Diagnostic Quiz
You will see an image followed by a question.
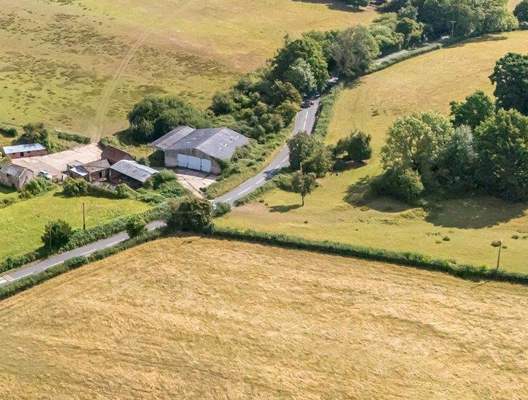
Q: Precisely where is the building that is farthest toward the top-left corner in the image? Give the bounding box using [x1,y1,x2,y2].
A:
[2,138,50,160]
